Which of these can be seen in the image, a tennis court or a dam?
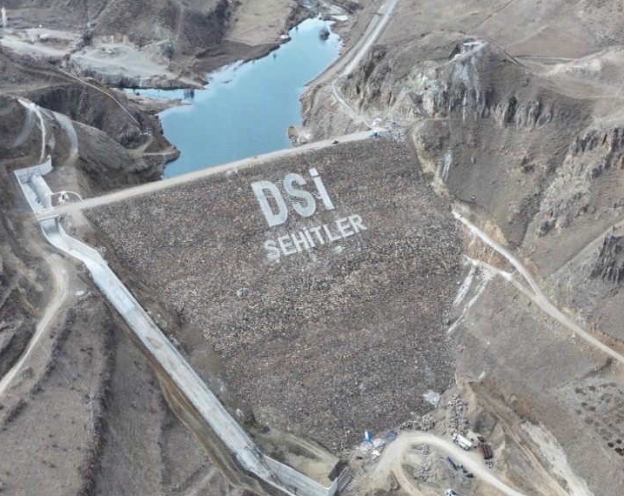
dam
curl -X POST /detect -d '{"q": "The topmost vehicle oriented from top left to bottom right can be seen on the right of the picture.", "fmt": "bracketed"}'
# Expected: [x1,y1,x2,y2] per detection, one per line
[450,432,473,449]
